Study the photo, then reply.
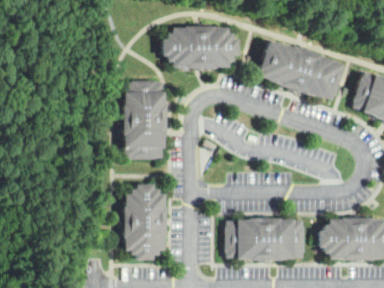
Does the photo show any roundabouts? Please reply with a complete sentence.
No, no roundabout can be seen from above.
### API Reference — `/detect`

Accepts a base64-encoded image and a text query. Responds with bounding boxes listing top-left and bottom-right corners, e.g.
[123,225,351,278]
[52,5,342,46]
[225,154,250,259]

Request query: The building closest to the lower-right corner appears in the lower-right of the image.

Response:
[318,218,384,260]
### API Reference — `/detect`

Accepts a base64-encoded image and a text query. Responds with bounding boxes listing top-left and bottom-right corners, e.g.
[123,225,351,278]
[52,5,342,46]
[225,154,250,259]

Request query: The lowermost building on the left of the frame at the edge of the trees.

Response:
[123,184,166,260]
